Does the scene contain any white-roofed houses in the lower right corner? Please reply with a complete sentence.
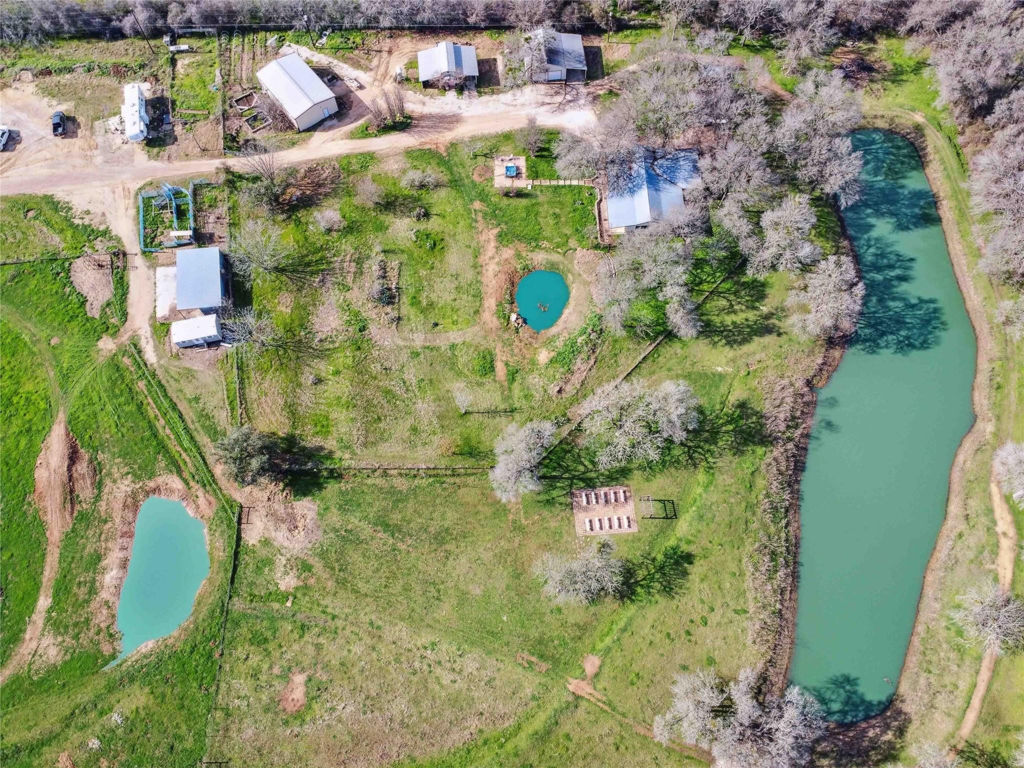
No, the scene shows no white-roofed house in the lower right corner.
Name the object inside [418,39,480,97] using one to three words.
house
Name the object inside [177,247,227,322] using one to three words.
barn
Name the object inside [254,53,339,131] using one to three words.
building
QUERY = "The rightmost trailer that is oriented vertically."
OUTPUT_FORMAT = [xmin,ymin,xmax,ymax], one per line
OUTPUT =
[122,84,152,146]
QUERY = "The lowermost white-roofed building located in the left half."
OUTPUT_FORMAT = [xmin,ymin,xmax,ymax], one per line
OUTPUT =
[172,316,225,357]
